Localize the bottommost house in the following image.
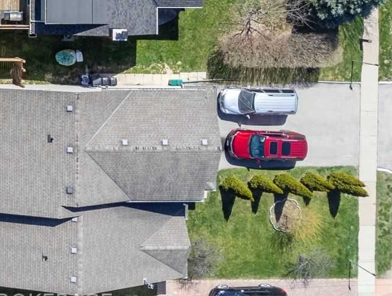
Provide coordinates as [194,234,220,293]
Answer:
[0,79,220,296]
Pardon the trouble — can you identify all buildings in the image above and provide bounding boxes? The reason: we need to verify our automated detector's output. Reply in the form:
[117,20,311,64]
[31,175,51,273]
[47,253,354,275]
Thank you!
[31,0,206,40]
[0,79,220,296]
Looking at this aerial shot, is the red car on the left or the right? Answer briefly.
right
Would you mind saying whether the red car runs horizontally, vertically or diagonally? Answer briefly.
horizontally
